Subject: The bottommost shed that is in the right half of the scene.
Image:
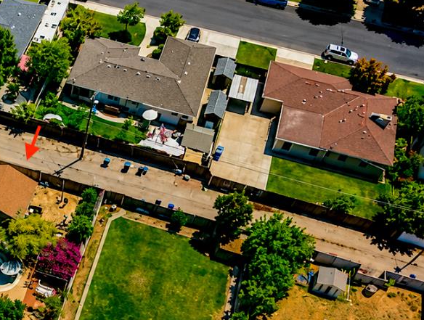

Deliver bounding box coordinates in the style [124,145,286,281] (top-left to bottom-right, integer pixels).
[310,266,347,302]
